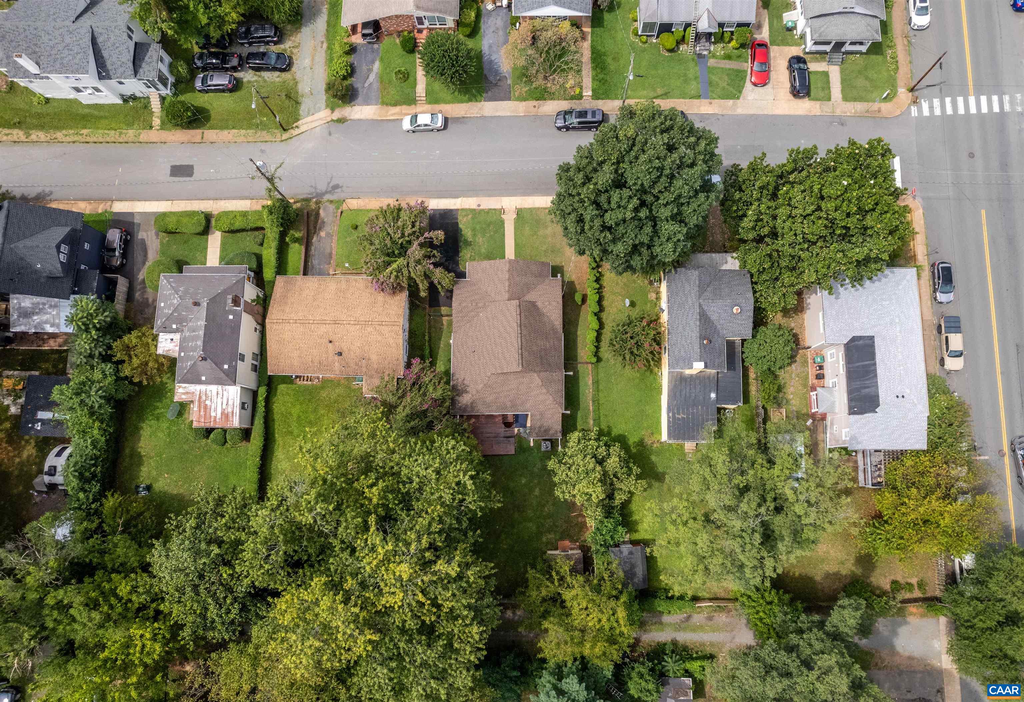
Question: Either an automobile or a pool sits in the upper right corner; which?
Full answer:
The feature located in the upper right corner is an automobile.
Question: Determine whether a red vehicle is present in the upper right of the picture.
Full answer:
Yes, the scene does show a red vehicle in the upper right of the picture.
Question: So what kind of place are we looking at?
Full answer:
The picture captures a residential area.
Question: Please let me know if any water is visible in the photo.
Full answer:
No, water can't be seen anywhere here.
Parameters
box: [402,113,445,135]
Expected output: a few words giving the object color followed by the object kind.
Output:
white car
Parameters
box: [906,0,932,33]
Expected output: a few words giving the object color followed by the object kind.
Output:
white car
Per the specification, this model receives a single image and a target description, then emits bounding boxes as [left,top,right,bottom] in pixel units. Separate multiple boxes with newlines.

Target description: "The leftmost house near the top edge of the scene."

[0,0,175,113]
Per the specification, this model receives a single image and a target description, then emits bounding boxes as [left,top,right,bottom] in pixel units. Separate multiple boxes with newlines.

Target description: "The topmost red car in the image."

[748,44,770,89]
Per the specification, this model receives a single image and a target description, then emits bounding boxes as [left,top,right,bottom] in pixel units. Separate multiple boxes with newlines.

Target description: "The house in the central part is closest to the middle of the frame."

[449,257,573,454]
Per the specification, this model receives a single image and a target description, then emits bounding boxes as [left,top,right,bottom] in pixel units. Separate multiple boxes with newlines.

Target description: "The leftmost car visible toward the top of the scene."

[101,228,129,271]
